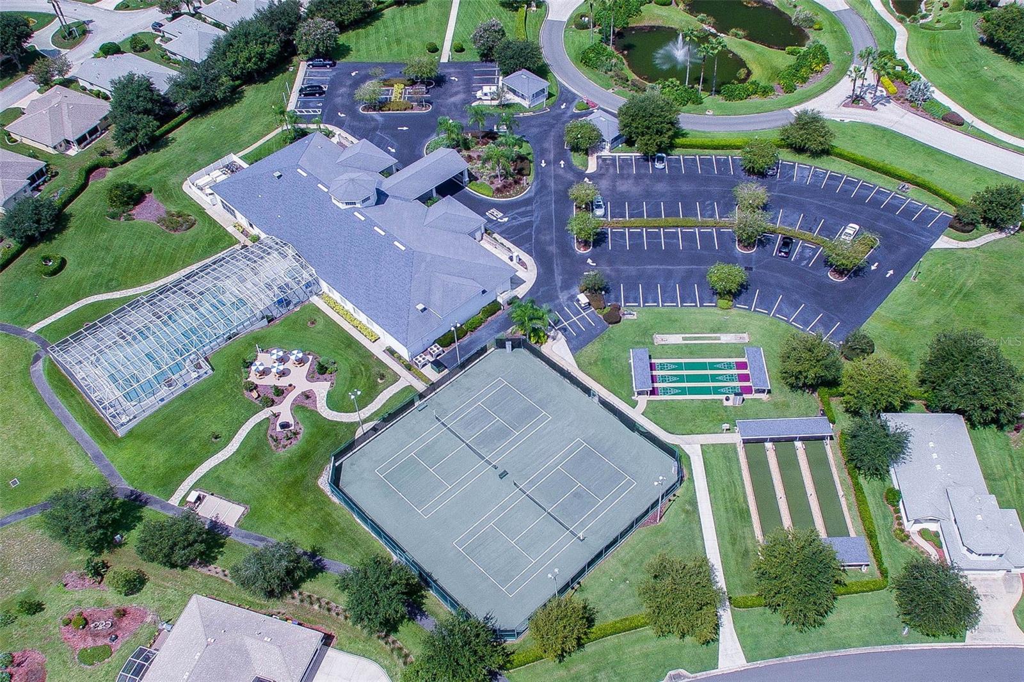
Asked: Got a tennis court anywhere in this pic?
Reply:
Yes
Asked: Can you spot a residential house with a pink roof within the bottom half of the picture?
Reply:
No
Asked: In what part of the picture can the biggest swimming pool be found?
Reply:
left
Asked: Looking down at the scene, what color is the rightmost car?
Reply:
white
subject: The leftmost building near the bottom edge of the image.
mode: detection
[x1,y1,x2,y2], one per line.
[141,594,324,682]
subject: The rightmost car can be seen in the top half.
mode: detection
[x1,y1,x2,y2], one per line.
[840,222,860,243]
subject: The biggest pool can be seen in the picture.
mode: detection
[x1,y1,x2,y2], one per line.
[101,292,265,411]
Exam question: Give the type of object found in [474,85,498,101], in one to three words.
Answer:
vehicle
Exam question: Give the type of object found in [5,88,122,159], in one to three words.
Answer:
house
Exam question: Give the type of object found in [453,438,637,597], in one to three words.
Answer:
tennis court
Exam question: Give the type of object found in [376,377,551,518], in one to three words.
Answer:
tennis court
